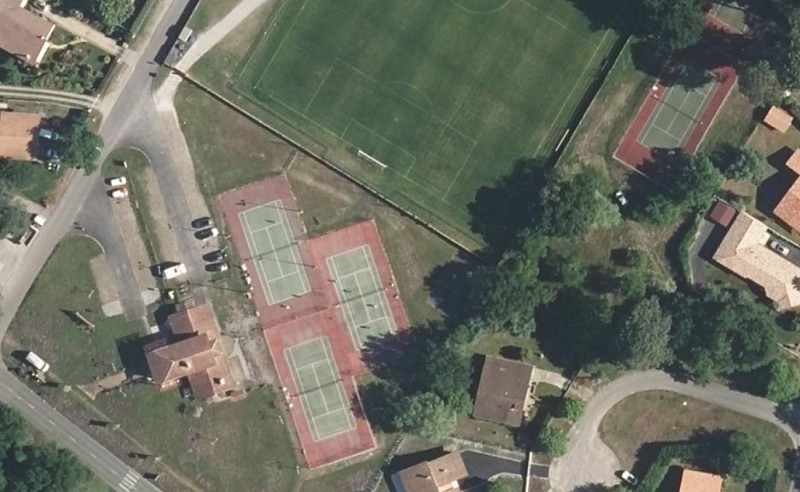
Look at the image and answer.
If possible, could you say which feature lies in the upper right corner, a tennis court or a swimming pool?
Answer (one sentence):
Looking in the upper right corner, you will find a tennis court.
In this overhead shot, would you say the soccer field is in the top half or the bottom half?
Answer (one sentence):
Seen from above, the soccer field lies in the top half of the view.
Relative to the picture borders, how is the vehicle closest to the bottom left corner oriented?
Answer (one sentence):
I'd say the vehicle closest to the bottom left corner is aligned on a diagonal in the picture.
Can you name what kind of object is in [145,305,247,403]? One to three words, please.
building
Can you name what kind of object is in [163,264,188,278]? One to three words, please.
vehicle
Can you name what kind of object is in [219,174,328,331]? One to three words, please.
tennis court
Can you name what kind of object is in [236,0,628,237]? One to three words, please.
soccer field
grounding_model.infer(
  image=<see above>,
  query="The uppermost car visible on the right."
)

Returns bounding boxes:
[613,189,630,205]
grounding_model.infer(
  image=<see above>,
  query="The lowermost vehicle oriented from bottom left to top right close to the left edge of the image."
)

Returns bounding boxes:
[21,216,45,244]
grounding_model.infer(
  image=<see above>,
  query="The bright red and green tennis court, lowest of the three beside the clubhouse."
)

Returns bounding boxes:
[263,312,377,469]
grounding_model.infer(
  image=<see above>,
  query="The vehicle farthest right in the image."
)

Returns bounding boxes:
[772,243,790,257]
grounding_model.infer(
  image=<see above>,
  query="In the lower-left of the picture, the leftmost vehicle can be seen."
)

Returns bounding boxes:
[26,351,48,371]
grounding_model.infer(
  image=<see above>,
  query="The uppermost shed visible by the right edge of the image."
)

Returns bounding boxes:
[764,106,793,134]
